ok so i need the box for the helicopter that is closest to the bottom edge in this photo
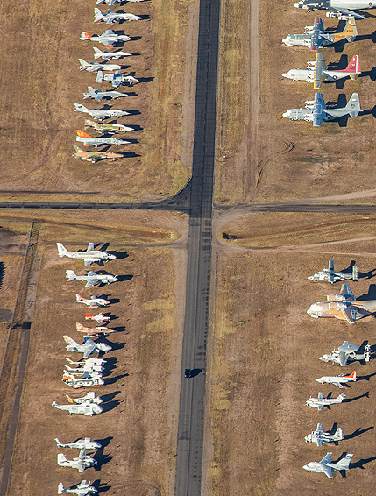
[55,438,102,452]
